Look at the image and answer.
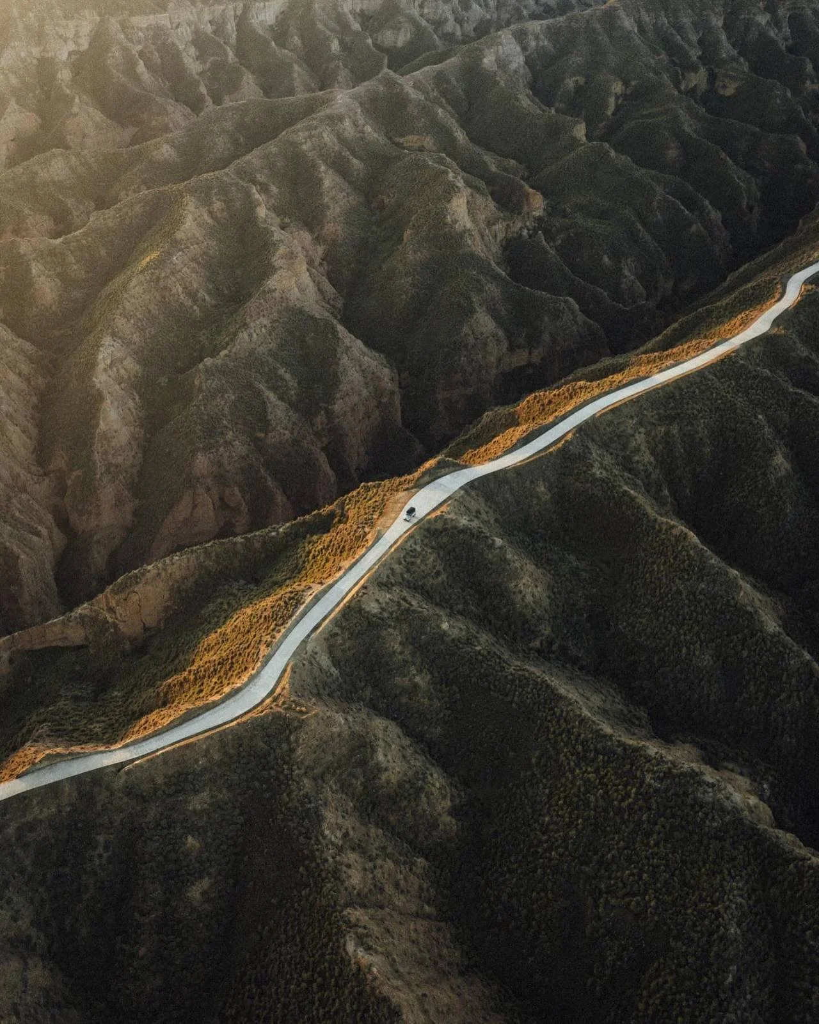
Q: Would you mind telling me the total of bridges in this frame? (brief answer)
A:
zero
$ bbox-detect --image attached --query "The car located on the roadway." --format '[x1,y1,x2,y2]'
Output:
[403,506,417,521]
